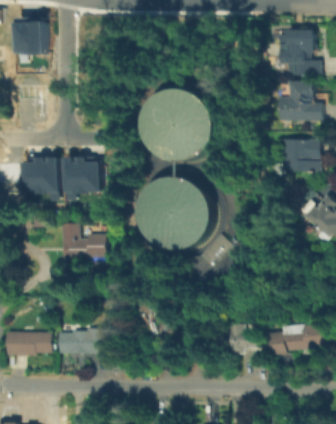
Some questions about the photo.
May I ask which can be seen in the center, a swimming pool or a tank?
tank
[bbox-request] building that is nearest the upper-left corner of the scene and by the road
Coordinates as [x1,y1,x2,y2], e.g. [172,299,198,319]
[12,18,50,52]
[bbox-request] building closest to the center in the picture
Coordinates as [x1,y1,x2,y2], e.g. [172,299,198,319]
[202,234,234,267]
